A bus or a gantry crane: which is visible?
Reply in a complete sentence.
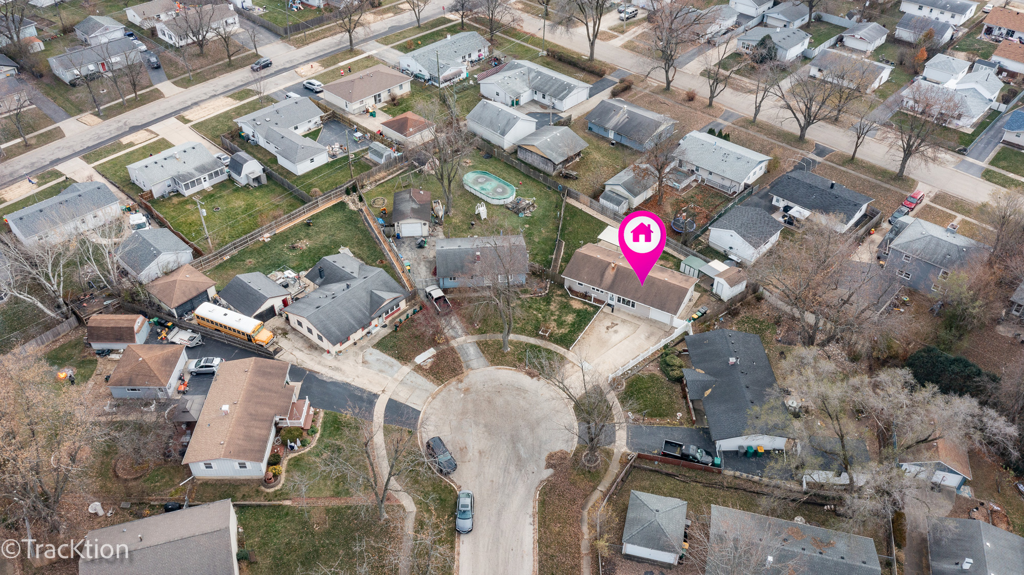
There is a bus in the scene.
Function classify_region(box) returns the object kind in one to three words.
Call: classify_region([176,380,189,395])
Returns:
vehicle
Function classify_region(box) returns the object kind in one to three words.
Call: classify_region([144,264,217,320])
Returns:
building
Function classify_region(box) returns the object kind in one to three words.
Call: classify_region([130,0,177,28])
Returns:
house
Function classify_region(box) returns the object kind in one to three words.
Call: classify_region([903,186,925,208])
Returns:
car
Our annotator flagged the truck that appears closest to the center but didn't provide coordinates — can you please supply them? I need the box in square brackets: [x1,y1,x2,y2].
[424,287,452,315]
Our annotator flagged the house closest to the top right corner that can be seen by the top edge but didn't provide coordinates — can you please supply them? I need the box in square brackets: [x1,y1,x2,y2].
[980,9,1024,46]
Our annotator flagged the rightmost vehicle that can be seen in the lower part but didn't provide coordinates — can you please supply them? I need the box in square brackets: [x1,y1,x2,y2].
[661,435,713,465]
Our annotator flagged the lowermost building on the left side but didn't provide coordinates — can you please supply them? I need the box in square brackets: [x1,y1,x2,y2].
[75,498,236,575]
